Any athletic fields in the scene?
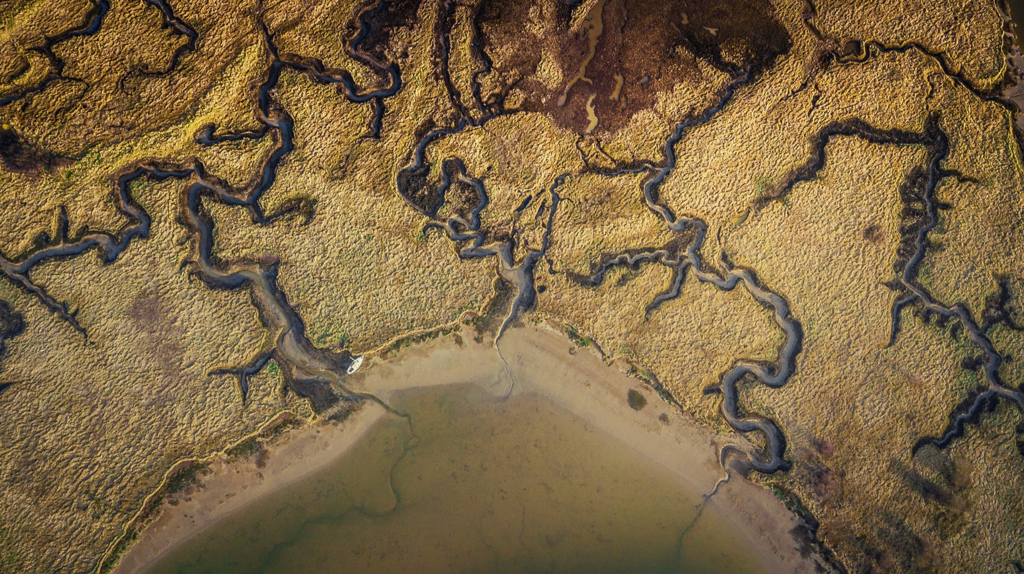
No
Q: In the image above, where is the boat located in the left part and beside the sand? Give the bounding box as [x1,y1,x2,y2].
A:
[345,356,364,376]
